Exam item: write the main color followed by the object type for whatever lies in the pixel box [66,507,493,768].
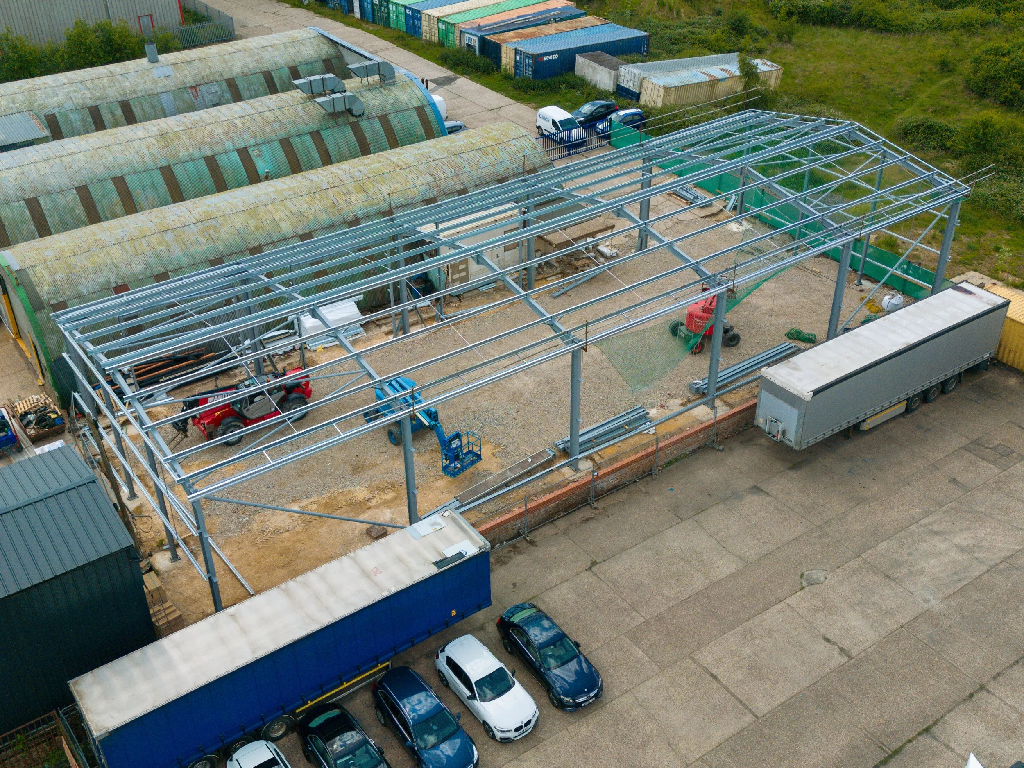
white trailer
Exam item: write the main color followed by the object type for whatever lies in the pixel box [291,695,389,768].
black car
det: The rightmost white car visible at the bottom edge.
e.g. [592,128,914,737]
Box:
[434,632,539,743]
